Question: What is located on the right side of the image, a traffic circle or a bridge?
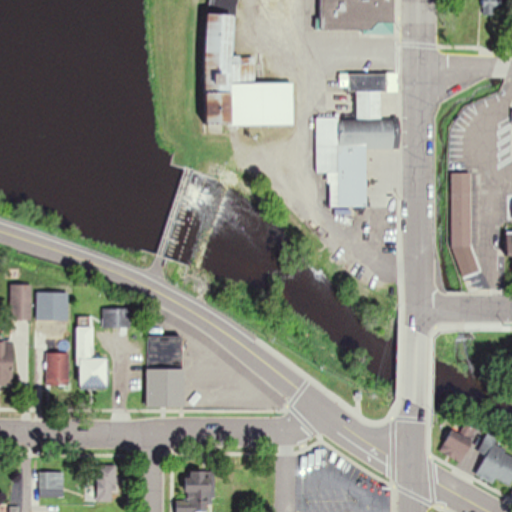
bridge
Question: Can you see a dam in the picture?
Yes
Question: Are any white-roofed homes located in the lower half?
Yes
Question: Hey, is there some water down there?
Yes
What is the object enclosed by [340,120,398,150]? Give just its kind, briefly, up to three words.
building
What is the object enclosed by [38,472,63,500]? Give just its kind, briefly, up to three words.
house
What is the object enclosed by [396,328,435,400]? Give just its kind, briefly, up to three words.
bridge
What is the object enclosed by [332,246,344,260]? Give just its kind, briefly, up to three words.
vehicle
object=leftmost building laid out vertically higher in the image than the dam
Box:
[206,0,255,124]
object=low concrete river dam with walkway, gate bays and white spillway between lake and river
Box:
[139,153,228,275]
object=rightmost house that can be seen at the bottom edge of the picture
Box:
[477,432,512,493]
